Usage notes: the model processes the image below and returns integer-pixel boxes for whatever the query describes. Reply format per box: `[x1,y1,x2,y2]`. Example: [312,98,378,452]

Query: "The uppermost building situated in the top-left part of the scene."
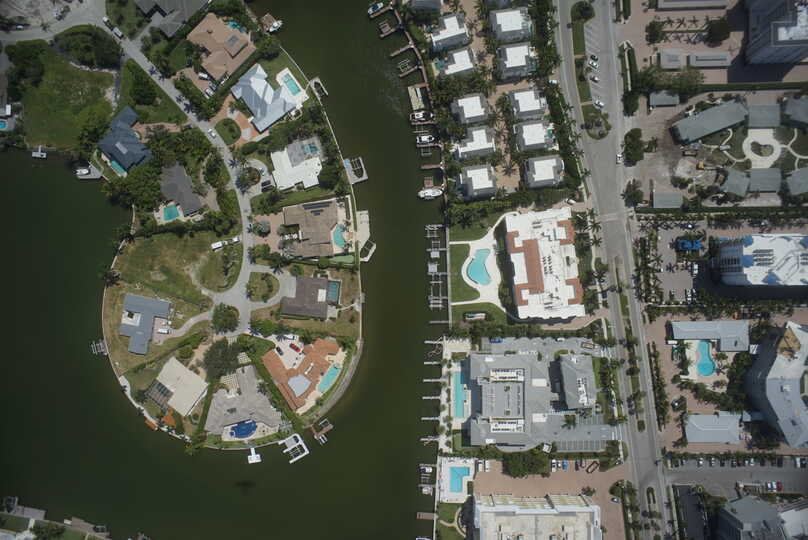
[135,0,209,37]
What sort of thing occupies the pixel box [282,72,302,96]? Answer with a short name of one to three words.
swimming pool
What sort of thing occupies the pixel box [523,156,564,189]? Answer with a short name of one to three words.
house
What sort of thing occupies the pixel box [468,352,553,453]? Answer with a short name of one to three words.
building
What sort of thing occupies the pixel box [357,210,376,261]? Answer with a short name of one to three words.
pier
